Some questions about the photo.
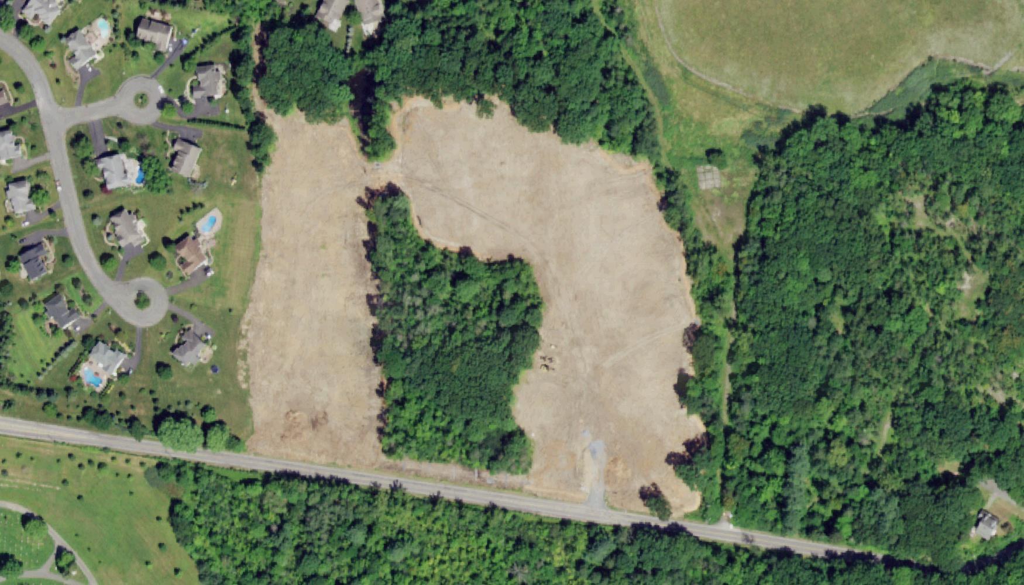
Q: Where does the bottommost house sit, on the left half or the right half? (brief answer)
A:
right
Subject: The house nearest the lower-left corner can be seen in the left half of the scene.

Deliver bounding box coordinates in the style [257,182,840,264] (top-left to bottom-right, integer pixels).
[87,339,129,379]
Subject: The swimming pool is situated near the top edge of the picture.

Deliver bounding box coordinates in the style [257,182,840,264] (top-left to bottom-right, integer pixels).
[97,18,110,39]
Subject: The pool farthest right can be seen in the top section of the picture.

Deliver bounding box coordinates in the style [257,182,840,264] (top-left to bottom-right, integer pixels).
[200,214,217,233]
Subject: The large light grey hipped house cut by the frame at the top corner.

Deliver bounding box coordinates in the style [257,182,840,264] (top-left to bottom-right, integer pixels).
[20,0,63,31]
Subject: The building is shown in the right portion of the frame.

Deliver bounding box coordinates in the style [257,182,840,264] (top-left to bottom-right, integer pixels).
[973,508,1000,544]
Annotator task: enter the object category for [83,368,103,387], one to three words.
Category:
swimming pool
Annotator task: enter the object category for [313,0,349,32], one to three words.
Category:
house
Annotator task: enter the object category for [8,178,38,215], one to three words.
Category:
house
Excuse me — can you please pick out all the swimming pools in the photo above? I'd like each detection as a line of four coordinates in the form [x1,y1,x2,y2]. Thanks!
[97,18,110,39]
[200,214,217,233]
[136,164,145,184]
[83,368,103,387]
